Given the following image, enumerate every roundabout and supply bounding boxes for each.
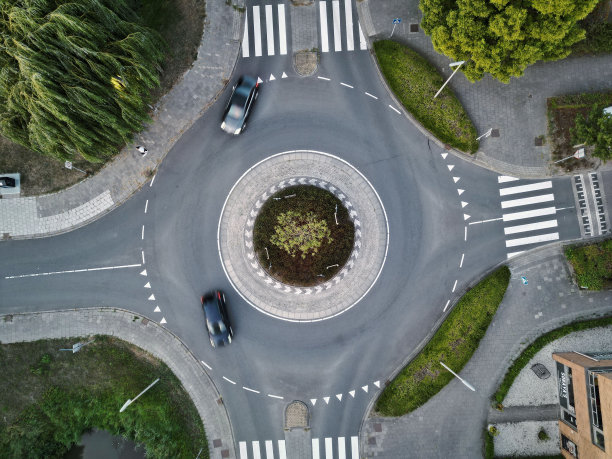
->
[145,82,461,397]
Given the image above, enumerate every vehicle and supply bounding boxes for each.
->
[222,78,258,136]
[200,290,232,347]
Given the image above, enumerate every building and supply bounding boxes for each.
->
[553,353,612,459]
